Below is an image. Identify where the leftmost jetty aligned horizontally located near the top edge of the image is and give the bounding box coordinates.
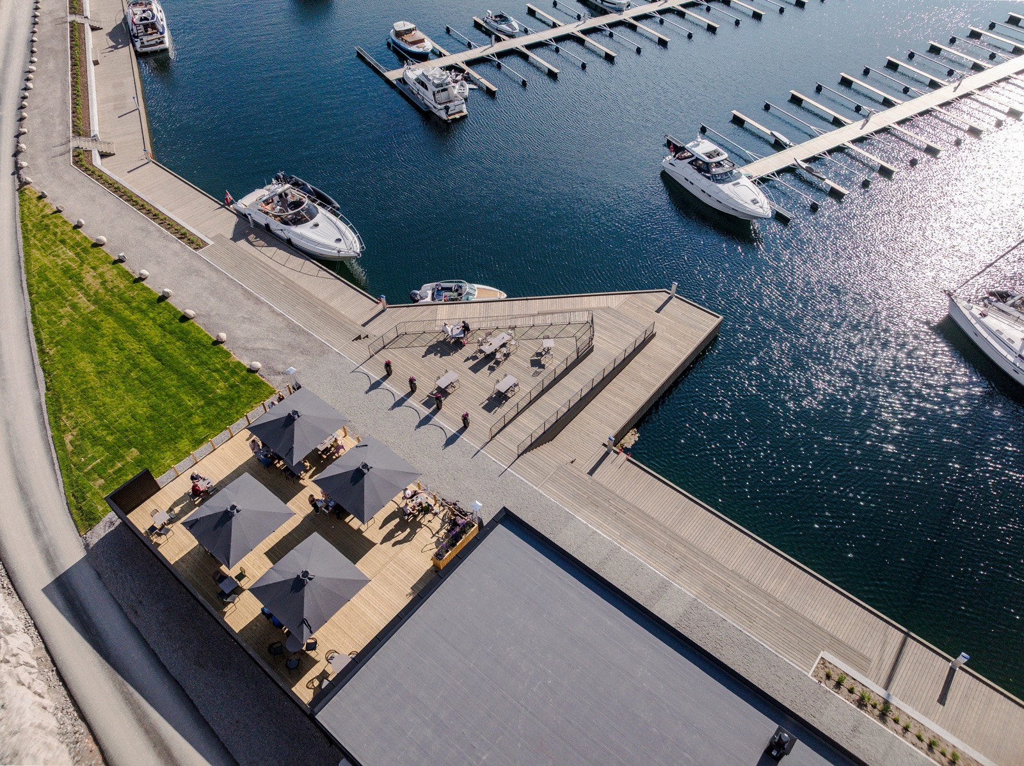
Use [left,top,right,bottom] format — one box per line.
[385,0,702,81]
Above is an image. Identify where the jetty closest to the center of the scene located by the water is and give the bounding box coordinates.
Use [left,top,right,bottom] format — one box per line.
[388,290,724,468]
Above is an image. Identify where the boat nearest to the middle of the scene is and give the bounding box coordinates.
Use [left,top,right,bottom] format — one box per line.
[413,276,507,305]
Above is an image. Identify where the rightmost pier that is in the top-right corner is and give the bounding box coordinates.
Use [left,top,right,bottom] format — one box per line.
[740,54,1024,180]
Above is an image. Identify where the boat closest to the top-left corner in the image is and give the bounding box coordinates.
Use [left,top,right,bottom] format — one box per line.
[122,0,171,57]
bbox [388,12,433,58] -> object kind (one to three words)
boat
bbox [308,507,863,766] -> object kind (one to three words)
building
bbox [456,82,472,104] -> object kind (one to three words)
boat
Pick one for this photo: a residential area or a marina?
marina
